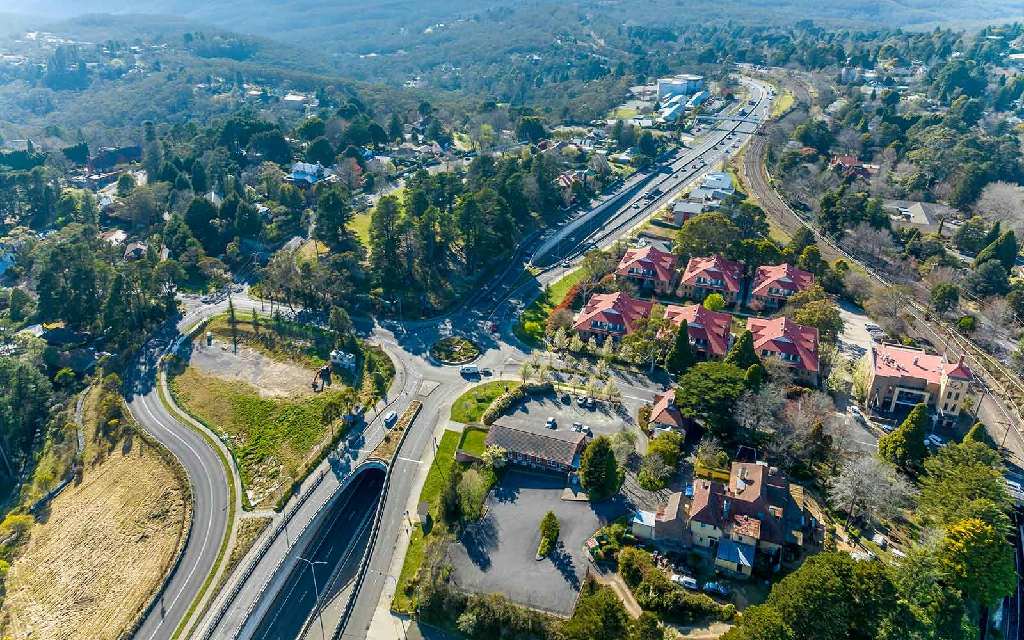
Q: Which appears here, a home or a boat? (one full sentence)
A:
The one in the frame is a home.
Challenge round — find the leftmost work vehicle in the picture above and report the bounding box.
[303,370,329,387]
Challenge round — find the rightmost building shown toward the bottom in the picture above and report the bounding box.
[855,345,972,427]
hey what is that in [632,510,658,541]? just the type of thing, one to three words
shed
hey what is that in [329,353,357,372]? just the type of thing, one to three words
building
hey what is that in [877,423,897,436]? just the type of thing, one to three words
vehicle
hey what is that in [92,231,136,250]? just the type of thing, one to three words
house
